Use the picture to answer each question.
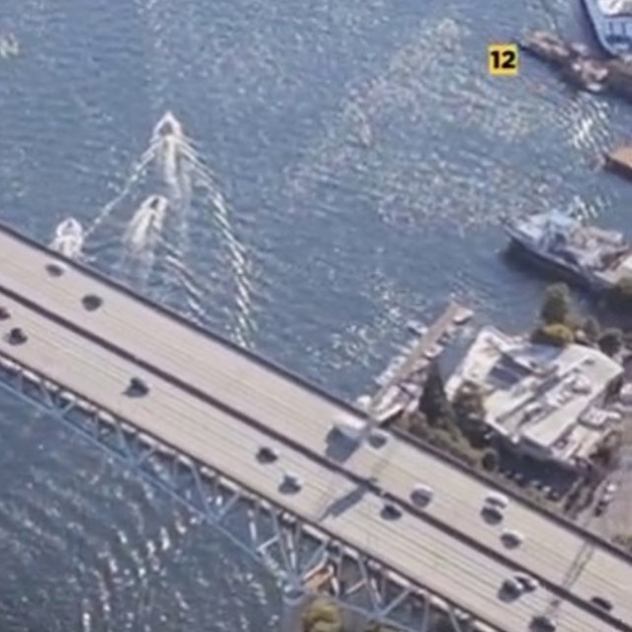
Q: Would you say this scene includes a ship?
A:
Yes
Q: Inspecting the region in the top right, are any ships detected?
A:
Yes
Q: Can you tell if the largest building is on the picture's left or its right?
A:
right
